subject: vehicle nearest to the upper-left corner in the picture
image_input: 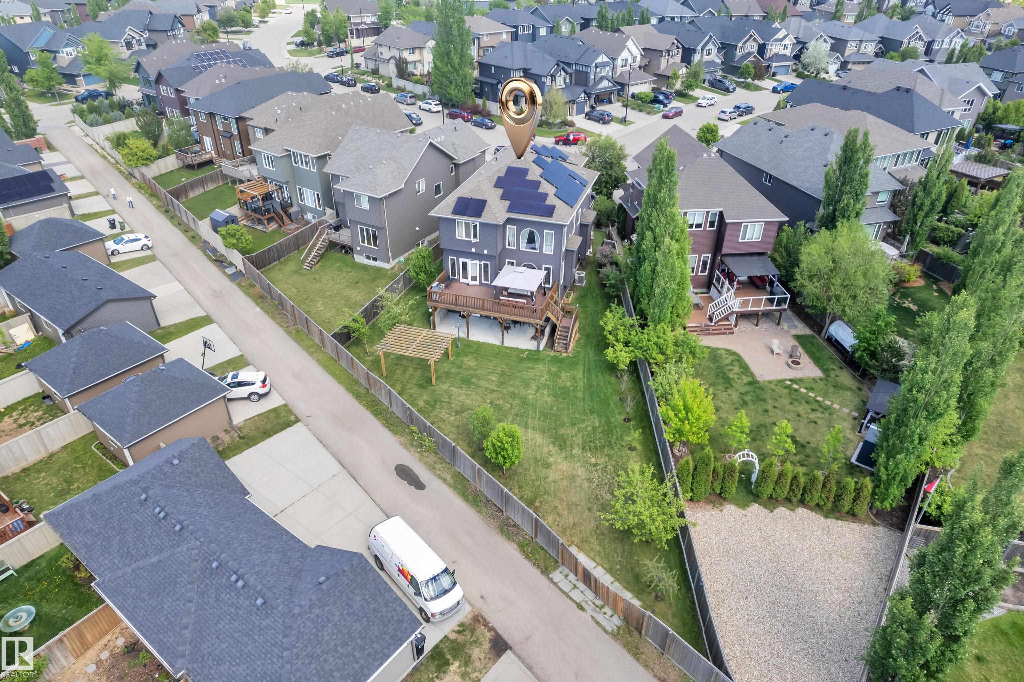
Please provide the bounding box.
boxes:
[73,87,113,101]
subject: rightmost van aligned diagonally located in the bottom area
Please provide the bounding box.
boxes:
[371,516,472,631]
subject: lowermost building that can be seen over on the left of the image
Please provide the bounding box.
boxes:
[35,442,426,682]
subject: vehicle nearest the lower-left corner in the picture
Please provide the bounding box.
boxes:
[224,369,274,415]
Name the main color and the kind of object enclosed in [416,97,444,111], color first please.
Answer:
white car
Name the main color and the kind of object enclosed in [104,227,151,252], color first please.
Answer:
white car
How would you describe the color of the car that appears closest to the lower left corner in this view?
white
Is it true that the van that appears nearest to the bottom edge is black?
No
